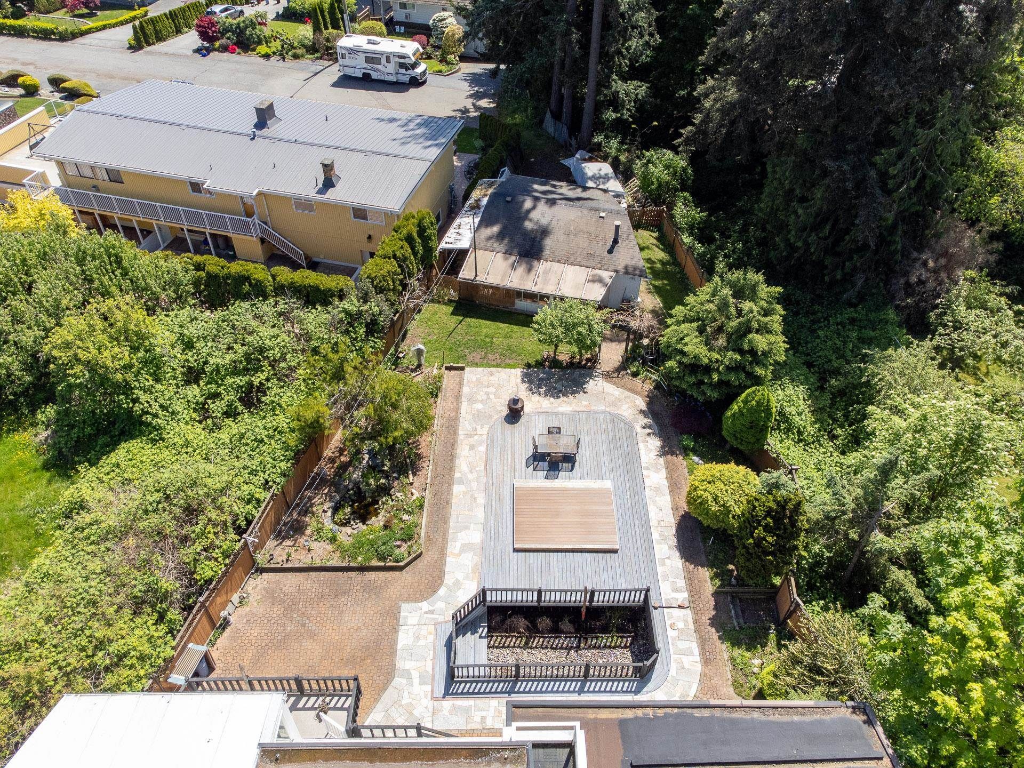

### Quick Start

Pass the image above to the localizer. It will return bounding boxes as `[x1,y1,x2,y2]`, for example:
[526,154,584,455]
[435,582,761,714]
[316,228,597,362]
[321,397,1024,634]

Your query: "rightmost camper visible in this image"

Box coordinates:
[332,29,434,84]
